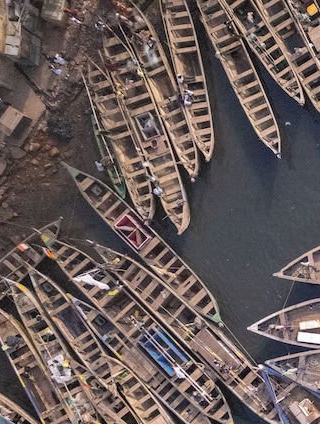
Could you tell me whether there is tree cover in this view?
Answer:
No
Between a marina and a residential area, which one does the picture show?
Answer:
marina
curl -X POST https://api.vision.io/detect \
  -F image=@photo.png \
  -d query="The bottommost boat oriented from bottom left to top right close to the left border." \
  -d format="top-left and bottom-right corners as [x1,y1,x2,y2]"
[0,210,71,290]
